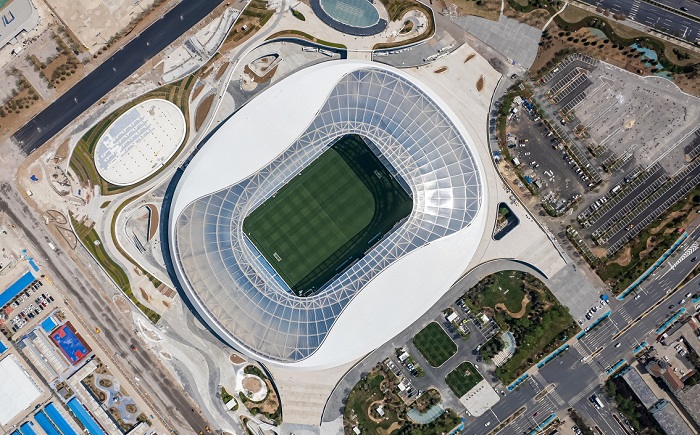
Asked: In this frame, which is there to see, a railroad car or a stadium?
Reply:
stadium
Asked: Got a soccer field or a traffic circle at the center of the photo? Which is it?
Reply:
soccer field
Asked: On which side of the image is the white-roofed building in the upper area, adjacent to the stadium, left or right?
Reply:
left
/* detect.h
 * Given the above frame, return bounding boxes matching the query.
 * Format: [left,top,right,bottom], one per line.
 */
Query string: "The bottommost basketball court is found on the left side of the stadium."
[49,321,91,365]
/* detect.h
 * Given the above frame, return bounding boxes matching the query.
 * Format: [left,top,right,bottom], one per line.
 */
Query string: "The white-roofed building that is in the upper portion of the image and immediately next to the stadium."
[94,98,189,185]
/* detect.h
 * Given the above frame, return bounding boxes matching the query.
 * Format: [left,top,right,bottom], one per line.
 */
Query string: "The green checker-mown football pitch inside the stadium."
[241,133,416,297]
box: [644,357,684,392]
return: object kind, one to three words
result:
house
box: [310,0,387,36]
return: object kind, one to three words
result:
building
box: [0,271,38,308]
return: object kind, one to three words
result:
shed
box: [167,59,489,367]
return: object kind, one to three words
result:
stadium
